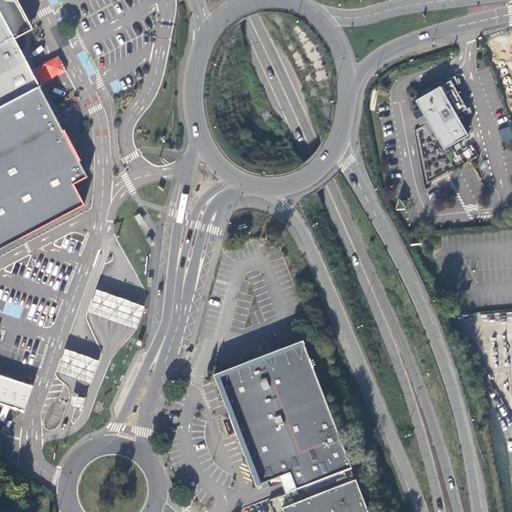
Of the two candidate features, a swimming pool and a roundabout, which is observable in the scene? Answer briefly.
roundabout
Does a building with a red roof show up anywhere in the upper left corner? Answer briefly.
Yes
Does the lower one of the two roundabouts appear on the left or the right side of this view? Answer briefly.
left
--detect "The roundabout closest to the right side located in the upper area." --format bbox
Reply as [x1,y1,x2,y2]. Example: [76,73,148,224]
[182,0,356,198]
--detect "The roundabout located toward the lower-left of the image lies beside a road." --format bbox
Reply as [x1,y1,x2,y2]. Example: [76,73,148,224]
[52,432,176,512]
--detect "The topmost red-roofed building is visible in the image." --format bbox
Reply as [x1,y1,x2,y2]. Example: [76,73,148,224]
[34,56,66,85]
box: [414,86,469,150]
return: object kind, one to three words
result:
building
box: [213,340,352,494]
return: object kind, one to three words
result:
building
